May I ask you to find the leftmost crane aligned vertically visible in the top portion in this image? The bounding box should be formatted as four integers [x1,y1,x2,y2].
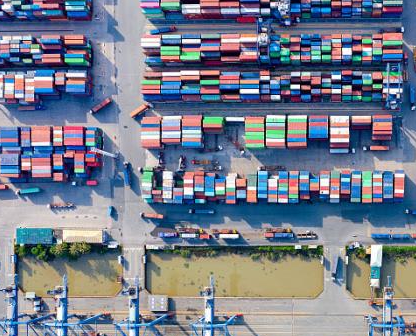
[254,22,276,74]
